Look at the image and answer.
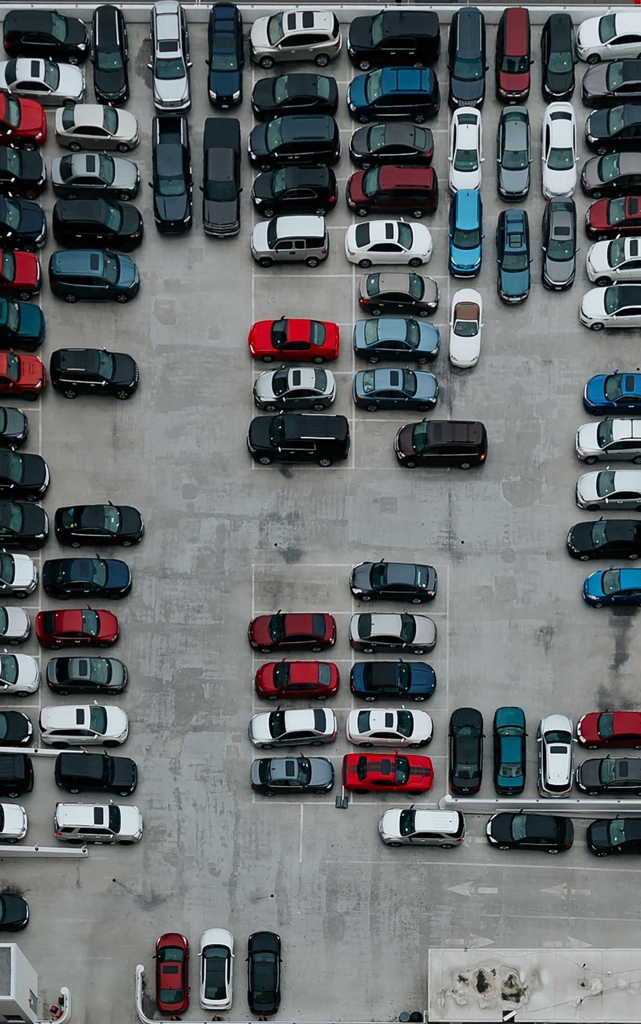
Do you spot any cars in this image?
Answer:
Yes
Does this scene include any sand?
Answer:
No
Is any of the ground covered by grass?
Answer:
No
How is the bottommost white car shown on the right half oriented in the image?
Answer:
horizontally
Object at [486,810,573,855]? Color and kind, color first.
black car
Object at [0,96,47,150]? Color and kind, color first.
red car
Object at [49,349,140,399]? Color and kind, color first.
black car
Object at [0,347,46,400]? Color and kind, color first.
red truck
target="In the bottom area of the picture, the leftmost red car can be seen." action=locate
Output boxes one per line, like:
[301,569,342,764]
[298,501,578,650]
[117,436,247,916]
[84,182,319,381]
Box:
[35,604,120,649]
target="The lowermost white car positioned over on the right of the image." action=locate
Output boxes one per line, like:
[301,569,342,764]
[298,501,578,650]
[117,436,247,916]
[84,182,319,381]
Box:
[378,803,466,848]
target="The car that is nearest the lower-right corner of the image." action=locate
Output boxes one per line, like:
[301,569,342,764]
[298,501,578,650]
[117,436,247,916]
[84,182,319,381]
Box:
[584,813,641,856]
